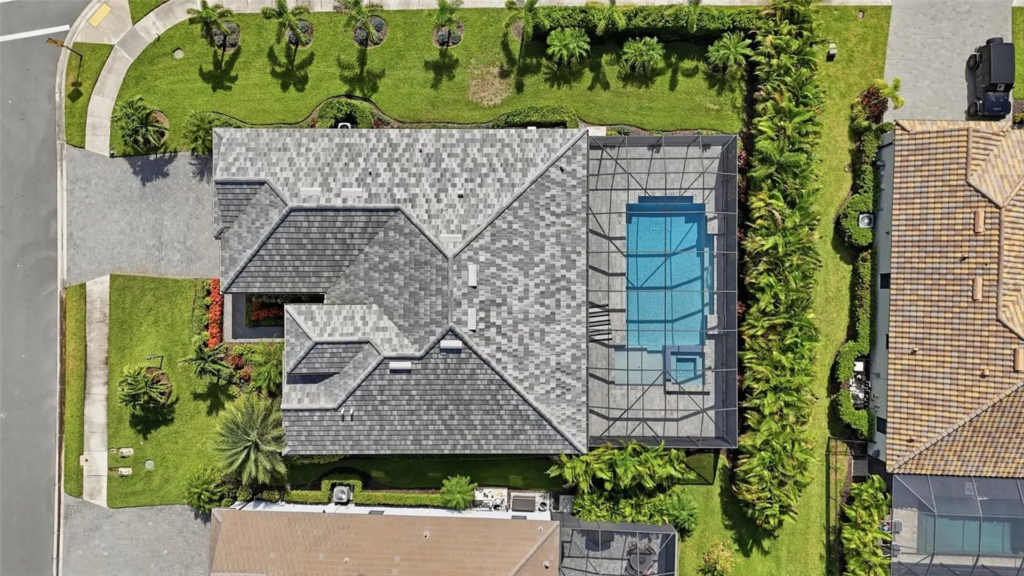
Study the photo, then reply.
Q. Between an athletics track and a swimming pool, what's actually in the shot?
swimming pool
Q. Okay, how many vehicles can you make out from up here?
one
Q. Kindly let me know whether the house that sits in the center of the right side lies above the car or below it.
below it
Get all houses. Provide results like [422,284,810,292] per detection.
[868,120,1024,478]
[209,500,561,576]
[211,126,589,456]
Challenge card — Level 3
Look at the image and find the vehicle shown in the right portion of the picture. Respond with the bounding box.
[968,45,1014,121]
